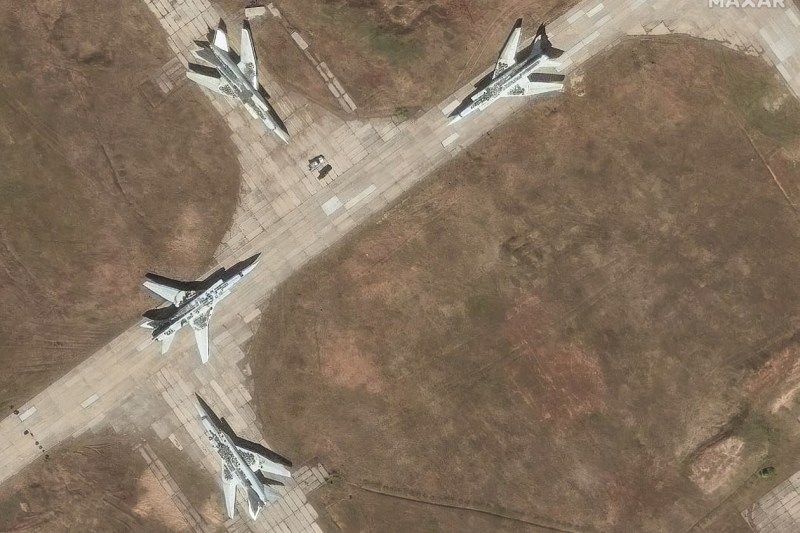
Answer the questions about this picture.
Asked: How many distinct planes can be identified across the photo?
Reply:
four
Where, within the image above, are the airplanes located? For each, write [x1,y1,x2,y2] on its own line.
[184,28,288,143]
[448,26,566,125]
[195,399,292,518]
[140,260,259,365]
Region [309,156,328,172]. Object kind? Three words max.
vehicle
